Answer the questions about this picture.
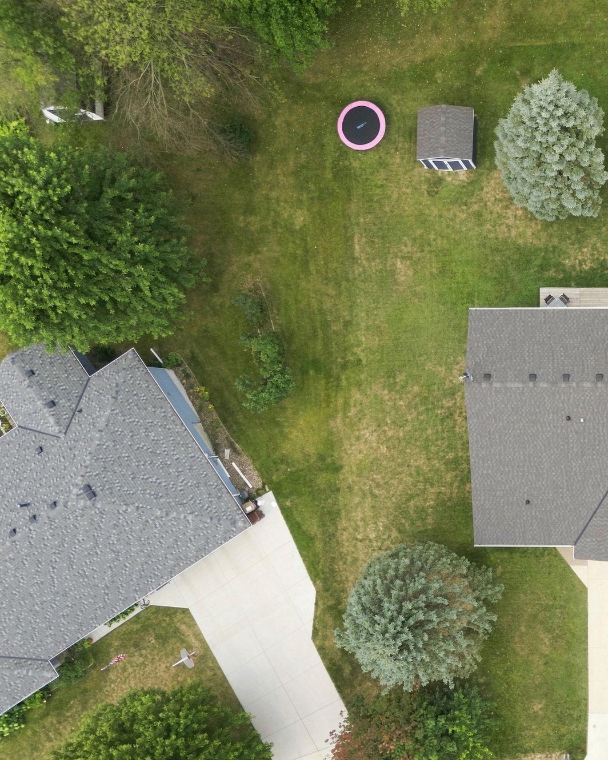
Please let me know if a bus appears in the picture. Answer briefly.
No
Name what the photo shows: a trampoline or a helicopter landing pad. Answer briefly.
trampoline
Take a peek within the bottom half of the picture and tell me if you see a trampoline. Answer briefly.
No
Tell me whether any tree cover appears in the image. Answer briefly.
Yes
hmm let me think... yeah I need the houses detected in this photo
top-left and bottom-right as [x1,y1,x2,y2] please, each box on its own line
[0,330,258,715]
[459,305,608,563]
